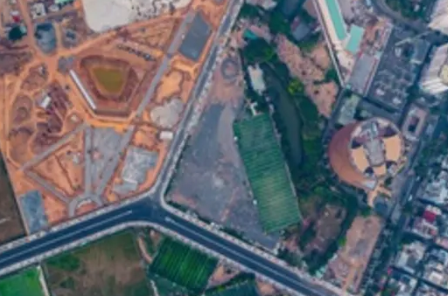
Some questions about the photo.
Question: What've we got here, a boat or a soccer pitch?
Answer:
soccer pitch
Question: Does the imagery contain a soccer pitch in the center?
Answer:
Yes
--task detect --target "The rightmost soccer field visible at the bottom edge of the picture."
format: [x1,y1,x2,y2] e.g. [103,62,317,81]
[151,237,217,292]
